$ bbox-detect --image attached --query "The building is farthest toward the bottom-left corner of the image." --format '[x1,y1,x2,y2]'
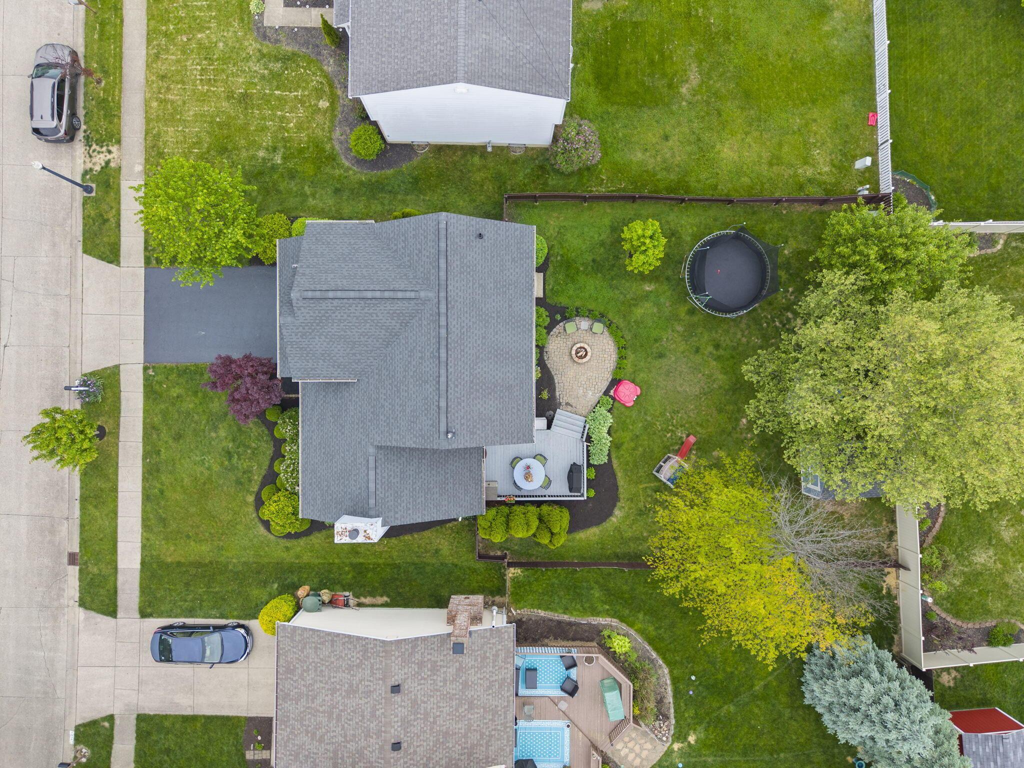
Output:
[274,605,517,768]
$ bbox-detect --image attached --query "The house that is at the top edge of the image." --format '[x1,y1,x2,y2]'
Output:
[333,0,576,144]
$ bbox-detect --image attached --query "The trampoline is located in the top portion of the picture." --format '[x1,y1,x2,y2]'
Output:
[674,223,784,325]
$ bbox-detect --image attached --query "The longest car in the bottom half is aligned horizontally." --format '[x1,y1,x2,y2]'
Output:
[150,621,253,671]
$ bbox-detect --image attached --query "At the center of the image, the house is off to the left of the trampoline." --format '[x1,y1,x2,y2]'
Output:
[275,213,538,526]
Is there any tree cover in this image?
Yes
